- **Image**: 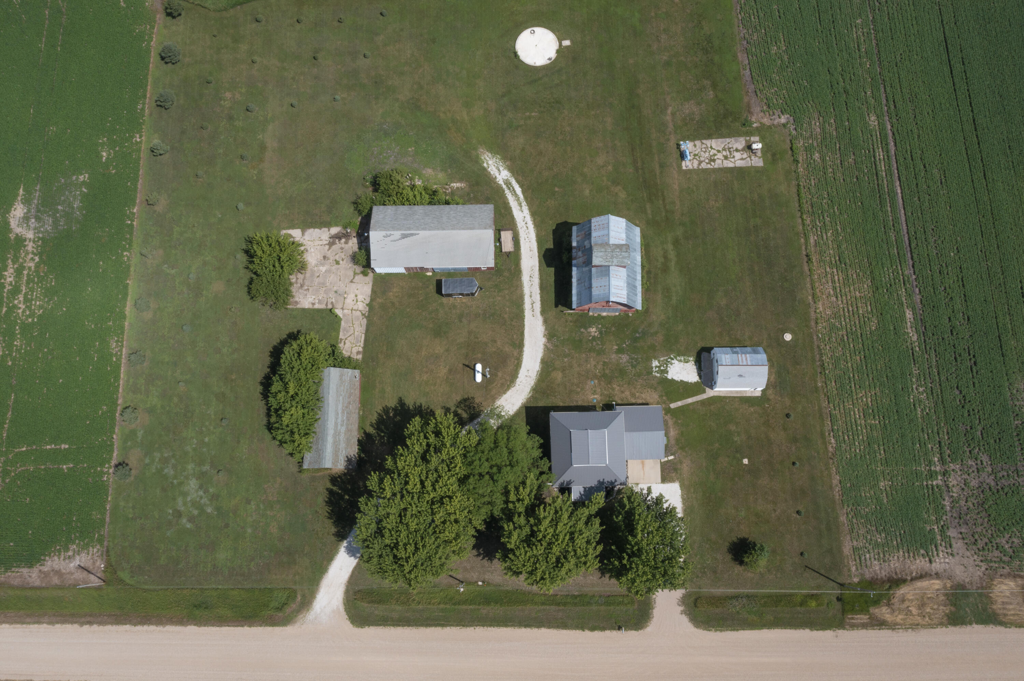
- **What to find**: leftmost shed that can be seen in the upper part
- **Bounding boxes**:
[369,204,494,273]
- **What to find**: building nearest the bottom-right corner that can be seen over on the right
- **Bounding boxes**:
[711,347,768,390]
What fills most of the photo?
grass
